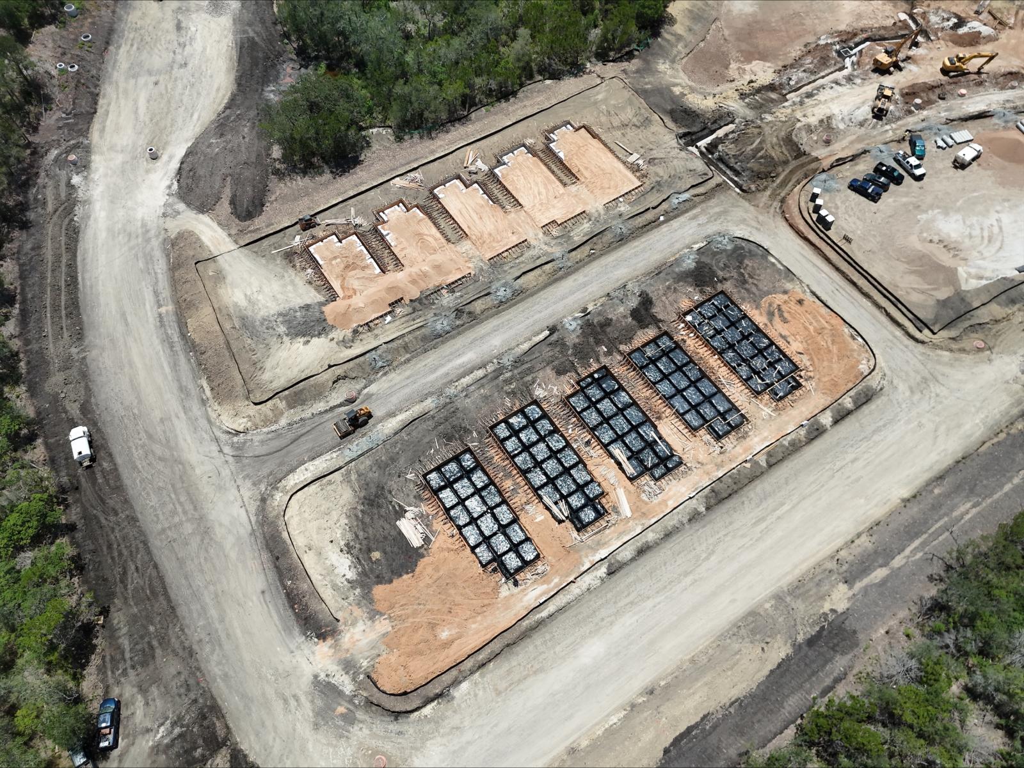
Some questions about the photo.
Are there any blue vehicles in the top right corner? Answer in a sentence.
Yes, looking in the top right corner, one can make out a blue vehicle.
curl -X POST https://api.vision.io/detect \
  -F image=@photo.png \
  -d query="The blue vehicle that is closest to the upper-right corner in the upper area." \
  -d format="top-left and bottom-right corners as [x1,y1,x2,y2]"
[908,134,927,159]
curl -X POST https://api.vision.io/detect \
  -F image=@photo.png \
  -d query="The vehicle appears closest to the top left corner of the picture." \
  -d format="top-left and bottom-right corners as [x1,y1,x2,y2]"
[301,213,326,229]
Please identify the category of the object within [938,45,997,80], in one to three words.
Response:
work vehicle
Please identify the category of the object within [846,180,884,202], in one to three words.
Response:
truck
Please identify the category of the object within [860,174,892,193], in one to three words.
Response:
car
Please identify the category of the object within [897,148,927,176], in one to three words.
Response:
truck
